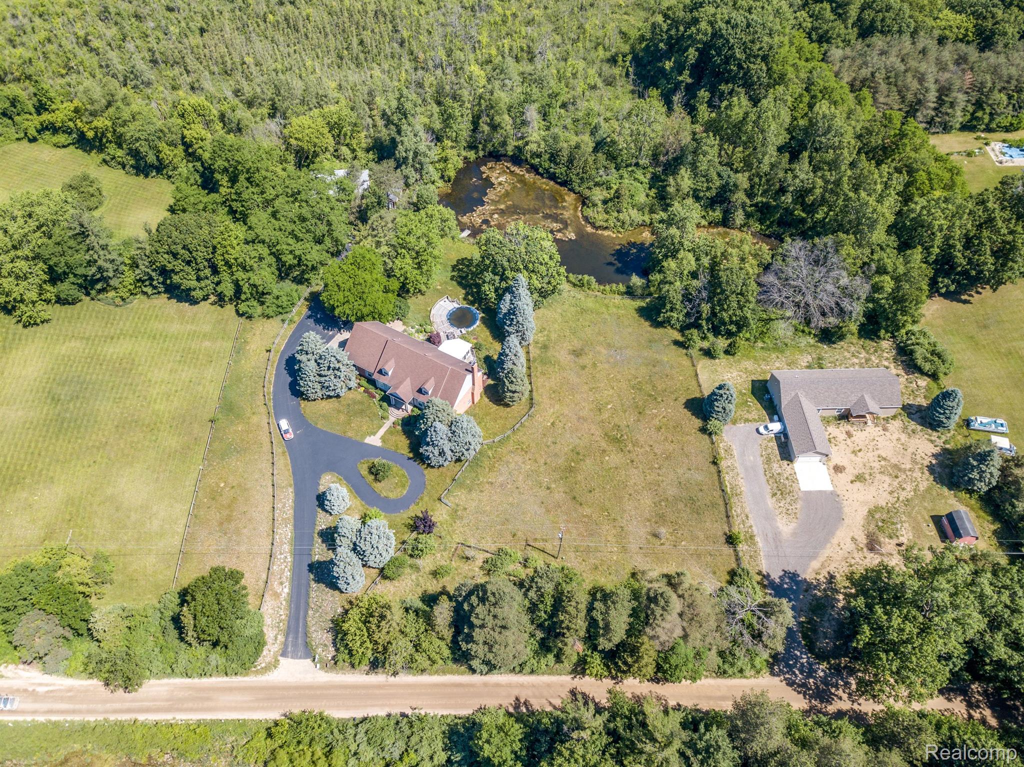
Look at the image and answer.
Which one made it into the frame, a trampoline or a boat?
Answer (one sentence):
Looking from above, you can make out a boat.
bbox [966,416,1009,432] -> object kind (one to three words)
boat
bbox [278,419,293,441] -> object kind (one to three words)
car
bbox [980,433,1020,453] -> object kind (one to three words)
boat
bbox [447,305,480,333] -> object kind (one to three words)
swimming pool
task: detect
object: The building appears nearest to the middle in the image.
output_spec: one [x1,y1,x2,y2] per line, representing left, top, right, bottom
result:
[343,319,485,420]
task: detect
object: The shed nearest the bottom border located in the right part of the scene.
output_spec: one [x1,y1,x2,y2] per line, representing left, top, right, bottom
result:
[941,510,979,543]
